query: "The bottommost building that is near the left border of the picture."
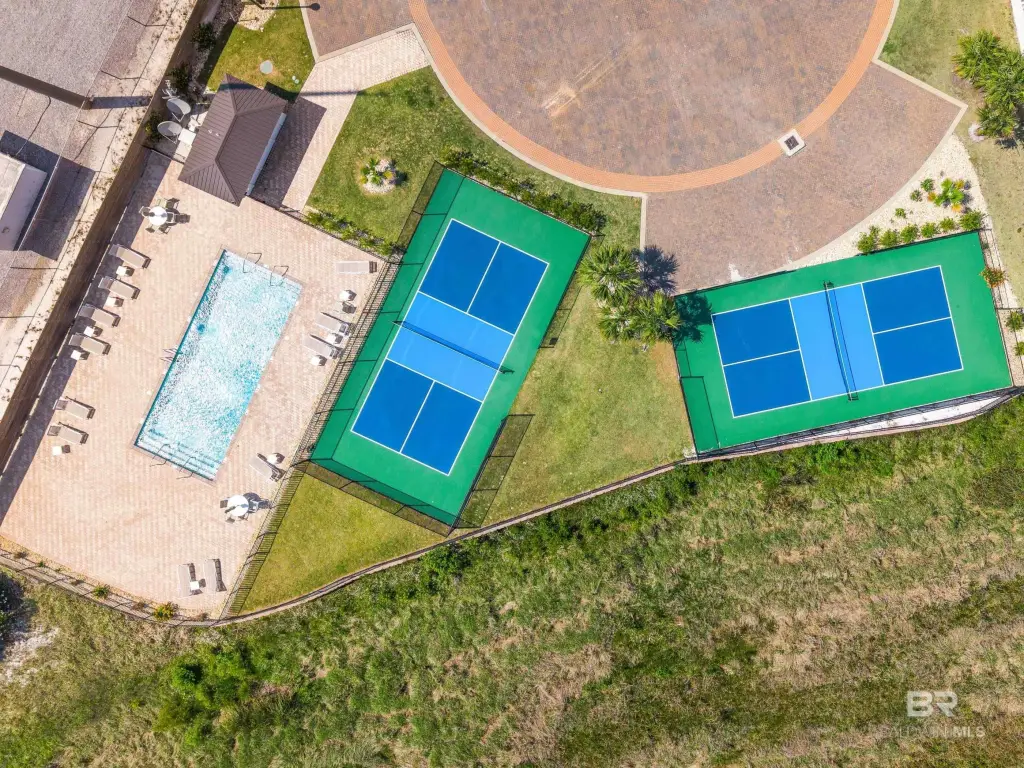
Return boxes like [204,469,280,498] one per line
[0,145,60,250]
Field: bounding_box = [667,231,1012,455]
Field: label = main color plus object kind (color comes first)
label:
green sports court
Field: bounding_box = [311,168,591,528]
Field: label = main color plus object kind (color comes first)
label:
green sports court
